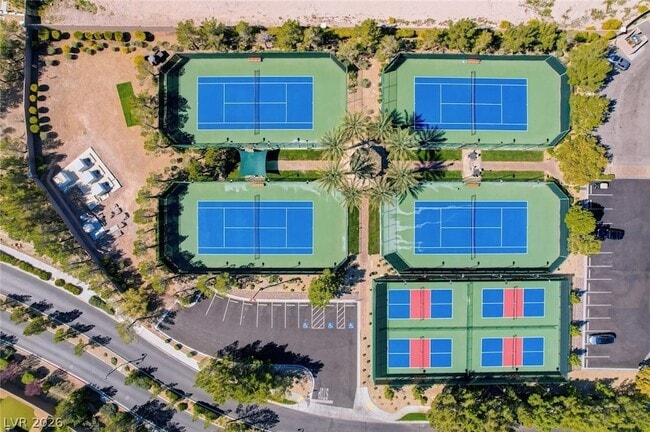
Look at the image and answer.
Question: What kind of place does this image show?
sports ground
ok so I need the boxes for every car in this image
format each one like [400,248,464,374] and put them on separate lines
[606,53,631,71]
[589,334,614,345]
[598,228,625,240]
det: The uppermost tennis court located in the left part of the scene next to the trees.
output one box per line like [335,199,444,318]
[166,59,346,148]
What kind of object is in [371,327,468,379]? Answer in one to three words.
sports court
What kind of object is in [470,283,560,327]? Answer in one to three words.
sports court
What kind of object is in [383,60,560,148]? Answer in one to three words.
tennis court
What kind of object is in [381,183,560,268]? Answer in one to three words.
tennis court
